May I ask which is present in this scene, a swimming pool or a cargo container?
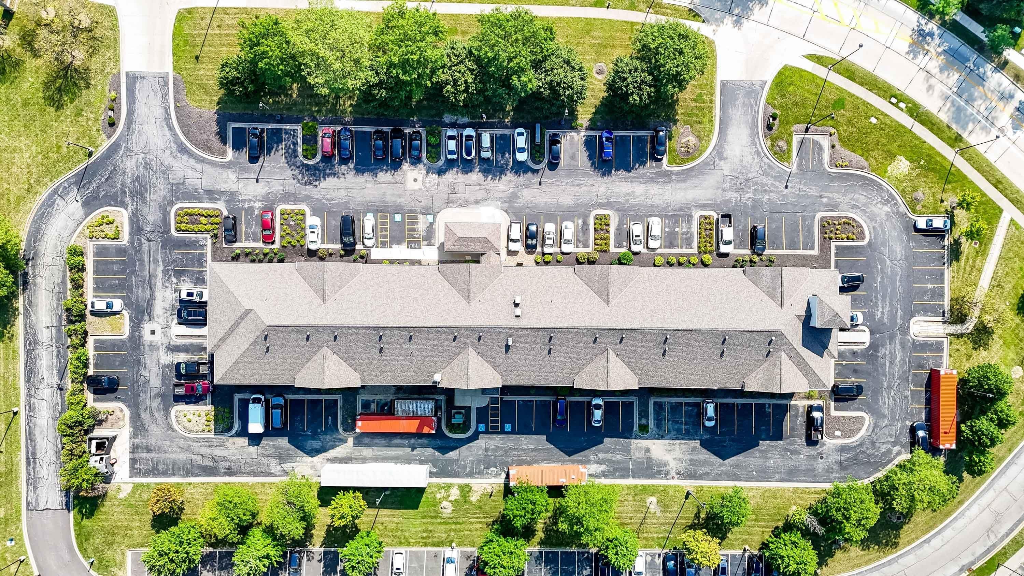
cargo container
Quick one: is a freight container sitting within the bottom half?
Yes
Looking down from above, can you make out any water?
No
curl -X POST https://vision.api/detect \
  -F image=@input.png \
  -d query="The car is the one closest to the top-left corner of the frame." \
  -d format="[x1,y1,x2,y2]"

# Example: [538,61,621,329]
[247,127,263,157]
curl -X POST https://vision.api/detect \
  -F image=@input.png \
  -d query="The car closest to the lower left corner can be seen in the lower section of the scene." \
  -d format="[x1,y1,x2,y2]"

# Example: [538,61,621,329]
[87,374,120,389]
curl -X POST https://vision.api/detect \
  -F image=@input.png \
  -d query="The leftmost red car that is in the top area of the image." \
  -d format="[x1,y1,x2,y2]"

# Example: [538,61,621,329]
[262,211,276,243]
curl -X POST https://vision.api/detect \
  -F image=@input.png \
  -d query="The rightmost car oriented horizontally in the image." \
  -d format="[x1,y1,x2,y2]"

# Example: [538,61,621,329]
[914,217,949,232]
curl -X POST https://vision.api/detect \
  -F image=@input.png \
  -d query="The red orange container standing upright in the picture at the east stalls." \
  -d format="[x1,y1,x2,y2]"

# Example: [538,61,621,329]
[931,367,957,449]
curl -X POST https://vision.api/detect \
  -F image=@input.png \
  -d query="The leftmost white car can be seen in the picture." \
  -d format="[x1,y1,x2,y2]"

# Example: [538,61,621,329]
[90,298,125,313]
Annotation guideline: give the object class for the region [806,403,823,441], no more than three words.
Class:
vehicle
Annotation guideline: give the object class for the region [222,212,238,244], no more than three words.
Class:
car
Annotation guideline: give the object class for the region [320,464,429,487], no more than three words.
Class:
trailer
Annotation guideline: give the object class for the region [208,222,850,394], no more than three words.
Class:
building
